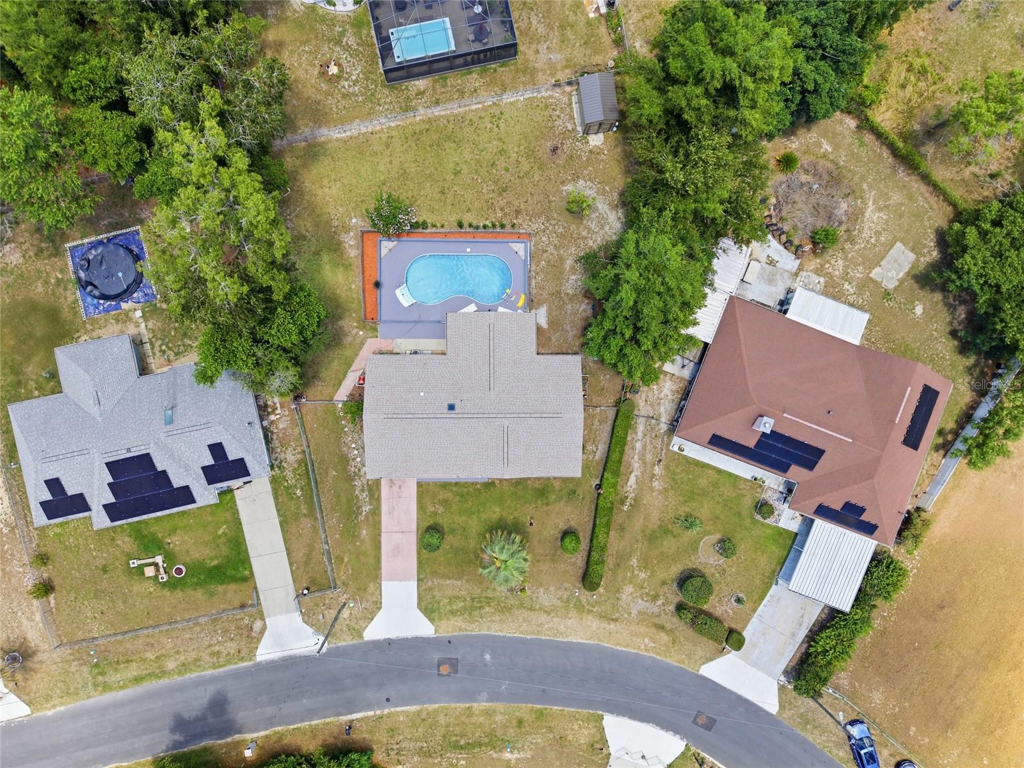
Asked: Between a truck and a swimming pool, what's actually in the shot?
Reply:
swimming pool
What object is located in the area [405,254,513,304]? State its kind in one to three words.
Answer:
swimming pool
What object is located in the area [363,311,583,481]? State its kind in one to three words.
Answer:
house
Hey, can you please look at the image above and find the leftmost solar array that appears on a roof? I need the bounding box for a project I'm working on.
[39,479,90,521]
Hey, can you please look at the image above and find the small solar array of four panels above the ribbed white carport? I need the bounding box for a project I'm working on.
[815,502,877,535]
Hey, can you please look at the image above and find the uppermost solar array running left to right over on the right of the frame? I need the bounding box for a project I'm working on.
[707,433,825,474]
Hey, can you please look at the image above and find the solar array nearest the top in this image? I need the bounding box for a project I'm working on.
[900,384,935,451]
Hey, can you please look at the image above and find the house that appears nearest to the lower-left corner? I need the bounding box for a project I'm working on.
[6,333,275,530]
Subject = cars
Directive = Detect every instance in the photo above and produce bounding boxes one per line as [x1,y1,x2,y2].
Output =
[896,760,920,768]
[849,718,888,768]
